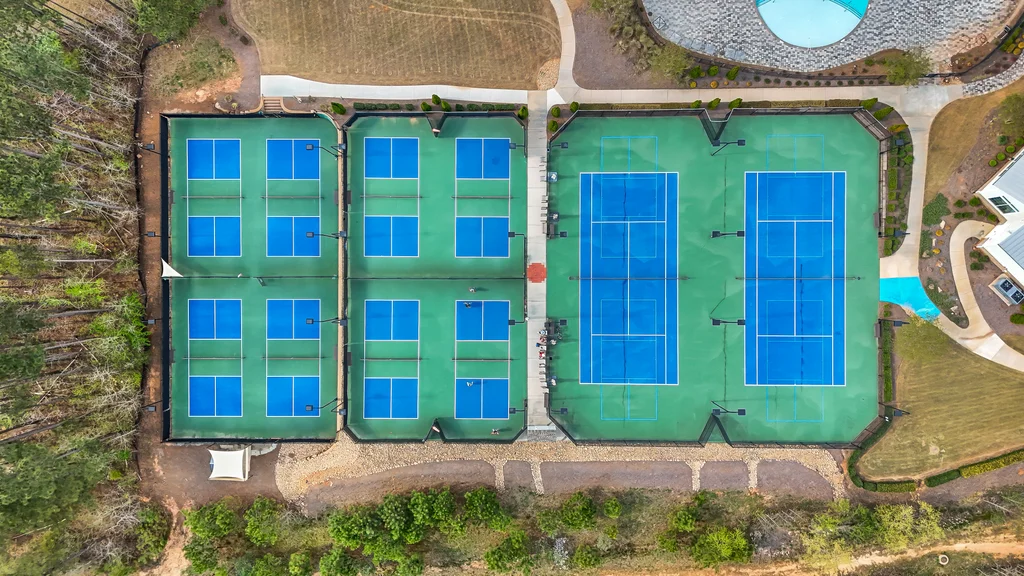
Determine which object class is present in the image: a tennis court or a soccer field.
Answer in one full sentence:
I can see a tennis court in this picture.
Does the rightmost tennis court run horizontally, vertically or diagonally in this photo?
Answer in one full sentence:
In this picture, the rightmost tennis court is oriented vertically.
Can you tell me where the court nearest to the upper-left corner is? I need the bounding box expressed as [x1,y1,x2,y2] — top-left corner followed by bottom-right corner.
[187,138,241,257]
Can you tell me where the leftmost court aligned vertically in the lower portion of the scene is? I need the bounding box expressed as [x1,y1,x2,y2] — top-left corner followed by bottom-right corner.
[188,299,242,417]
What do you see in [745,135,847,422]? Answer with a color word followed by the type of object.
blue tennis court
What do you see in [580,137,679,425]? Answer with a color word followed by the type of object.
blue tennis court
